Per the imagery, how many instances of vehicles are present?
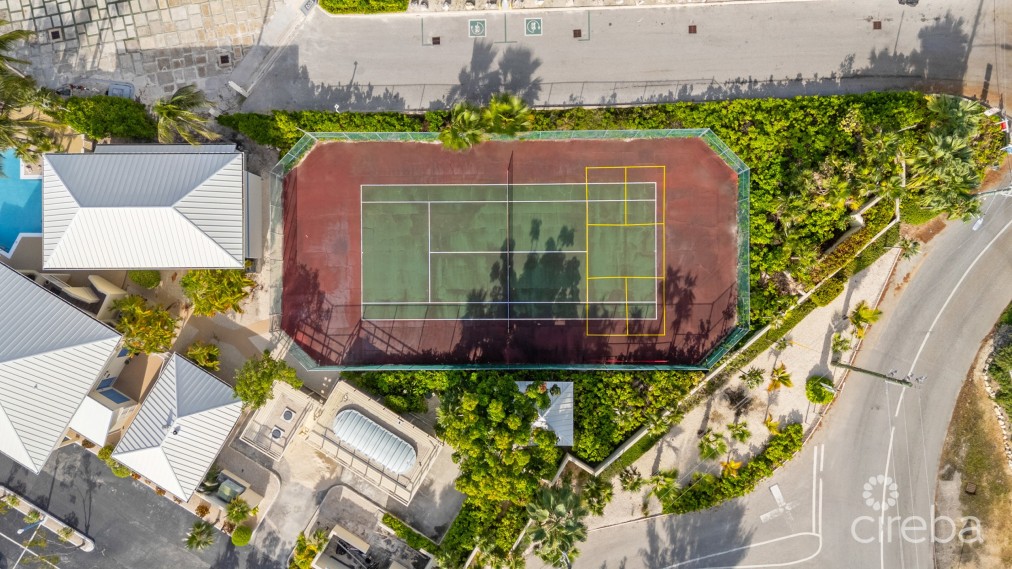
0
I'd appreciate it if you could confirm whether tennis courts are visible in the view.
Yes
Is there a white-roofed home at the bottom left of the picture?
Yes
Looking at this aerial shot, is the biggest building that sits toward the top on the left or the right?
left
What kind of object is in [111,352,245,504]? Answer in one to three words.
house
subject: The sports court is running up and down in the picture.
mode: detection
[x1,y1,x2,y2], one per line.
[586,166,666,335]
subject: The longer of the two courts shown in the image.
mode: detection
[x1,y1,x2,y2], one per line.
[280,136,739,367]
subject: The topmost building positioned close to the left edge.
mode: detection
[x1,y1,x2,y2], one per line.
[41,144,274,272]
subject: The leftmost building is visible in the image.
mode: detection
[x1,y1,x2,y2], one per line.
[0,253,135,474]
